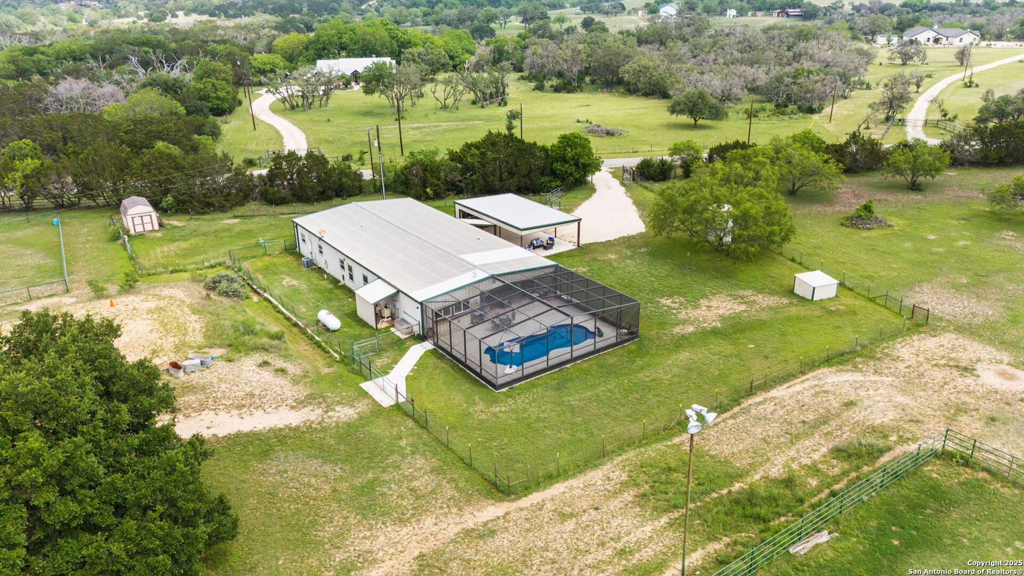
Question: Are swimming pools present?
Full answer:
Yes, there's a swimming pool down there.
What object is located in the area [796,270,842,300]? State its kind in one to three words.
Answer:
shed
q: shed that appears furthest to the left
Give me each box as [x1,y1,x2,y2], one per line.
[120,195,158,234]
